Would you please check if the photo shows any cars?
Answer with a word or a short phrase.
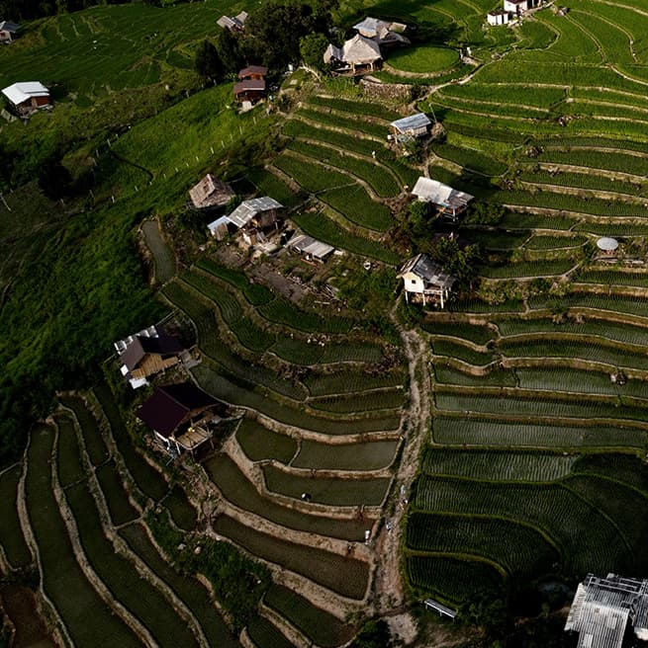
No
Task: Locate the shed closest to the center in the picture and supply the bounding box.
[290,235,335,268]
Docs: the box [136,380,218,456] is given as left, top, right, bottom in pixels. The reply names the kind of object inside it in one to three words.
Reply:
house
